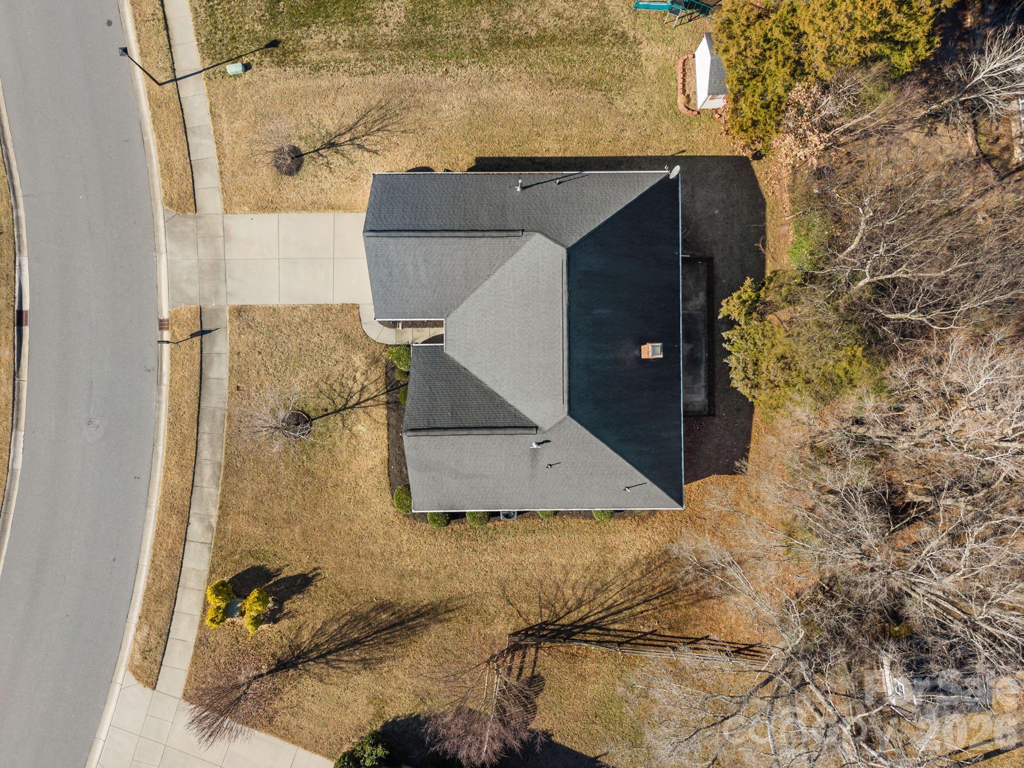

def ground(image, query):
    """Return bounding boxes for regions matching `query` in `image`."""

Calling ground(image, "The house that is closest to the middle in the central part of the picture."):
[362,172,682,513]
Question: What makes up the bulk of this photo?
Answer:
grass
